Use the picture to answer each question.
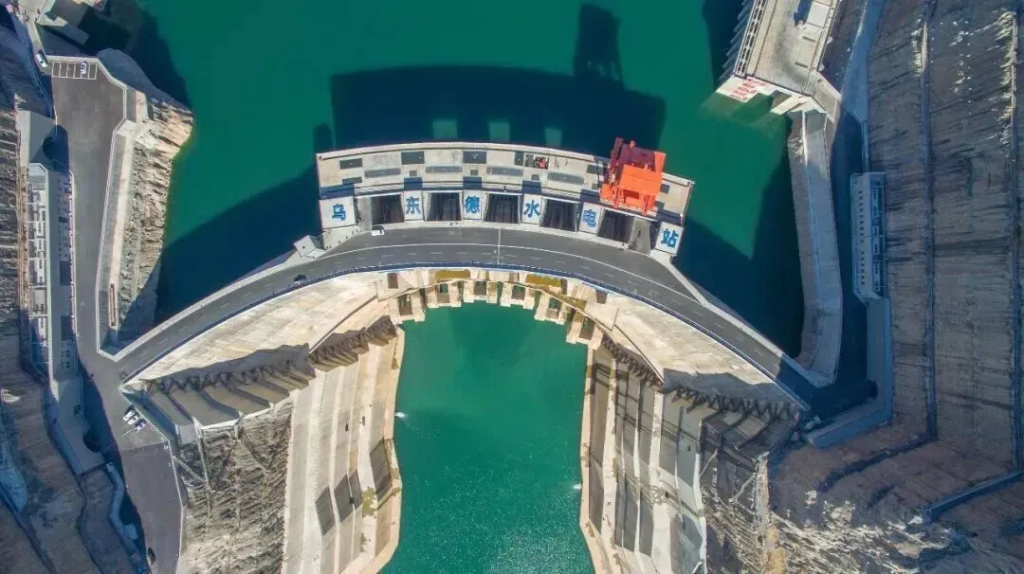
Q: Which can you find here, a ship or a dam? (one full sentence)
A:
Looking from above, you can make out a dam.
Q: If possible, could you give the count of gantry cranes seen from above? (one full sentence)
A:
I count 1 gantry crane.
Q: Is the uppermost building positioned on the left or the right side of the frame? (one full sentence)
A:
The uppermost building is on the left side of the image.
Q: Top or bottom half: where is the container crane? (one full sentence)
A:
You can find the container crane in the top half.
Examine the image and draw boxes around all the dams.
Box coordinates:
[111,142,815,410]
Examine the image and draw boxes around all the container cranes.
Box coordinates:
[599,139,668,217]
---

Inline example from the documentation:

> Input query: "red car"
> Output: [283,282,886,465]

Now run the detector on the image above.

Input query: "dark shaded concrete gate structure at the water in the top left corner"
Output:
[54,0,147,46]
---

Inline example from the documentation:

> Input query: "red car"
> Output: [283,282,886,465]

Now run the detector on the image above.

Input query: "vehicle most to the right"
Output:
[804,415,823,430]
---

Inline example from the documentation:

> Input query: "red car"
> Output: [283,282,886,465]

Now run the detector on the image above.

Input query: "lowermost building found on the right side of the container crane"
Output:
[850,167,890,291]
